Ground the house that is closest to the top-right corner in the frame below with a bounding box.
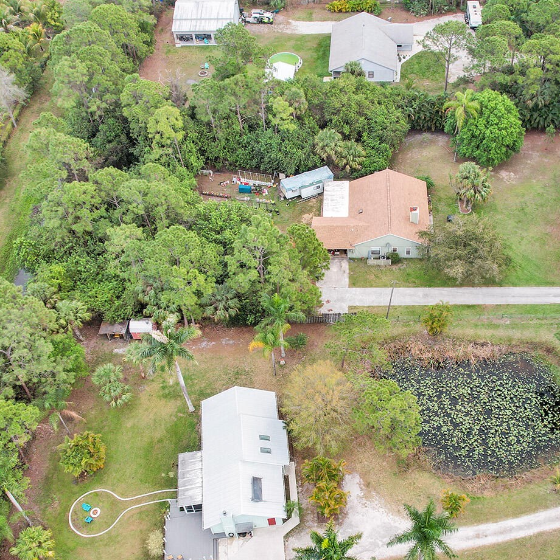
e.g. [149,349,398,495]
[329,14,414,81]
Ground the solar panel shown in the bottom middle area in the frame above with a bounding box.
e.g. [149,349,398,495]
[251,474,270,502]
